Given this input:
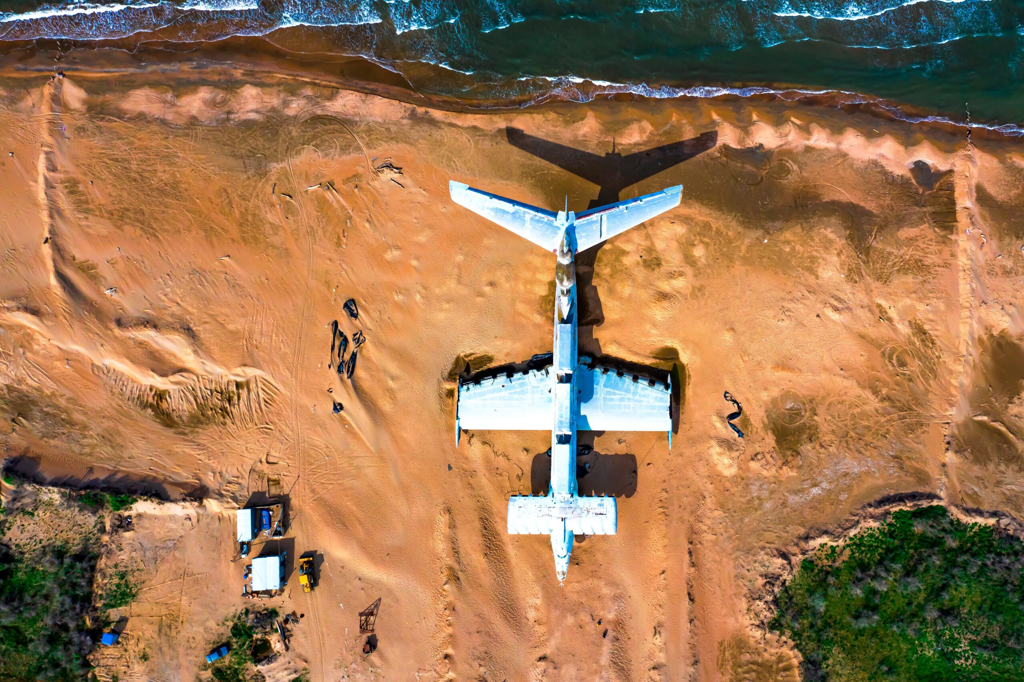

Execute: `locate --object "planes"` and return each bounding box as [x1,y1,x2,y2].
[454,181,684,592]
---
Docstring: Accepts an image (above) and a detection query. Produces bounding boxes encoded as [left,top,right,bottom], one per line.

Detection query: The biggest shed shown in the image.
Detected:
[252,553,284,590]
